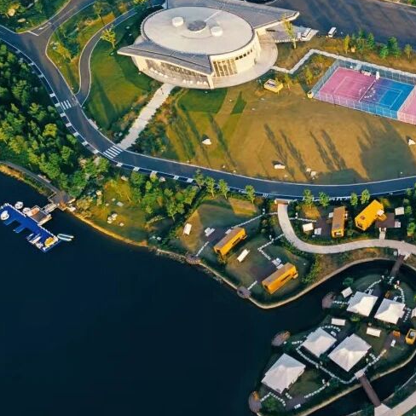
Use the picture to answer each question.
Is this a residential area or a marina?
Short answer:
marina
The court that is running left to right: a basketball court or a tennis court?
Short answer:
tennis court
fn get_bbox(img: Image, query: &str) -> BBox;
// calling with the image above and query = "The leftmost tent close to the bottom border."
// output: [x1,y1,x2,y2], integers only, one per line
[262,354,307,400]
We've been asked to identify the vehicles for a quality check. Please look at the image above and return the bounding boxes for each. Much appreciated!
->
[299,25,311,37]
[328,25,336,37]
